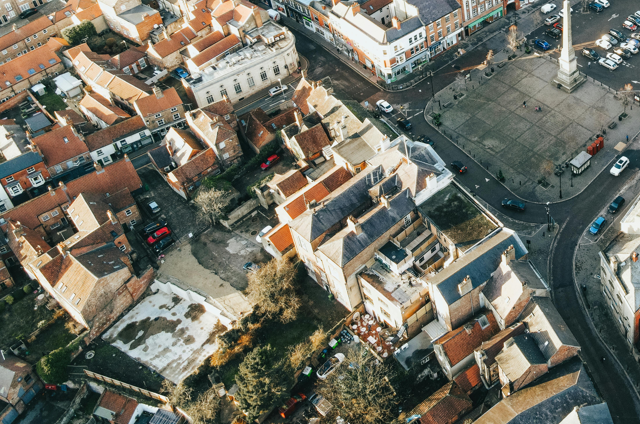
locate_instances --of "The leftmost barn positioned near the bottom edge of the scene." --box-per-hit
[0,344,48,419]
